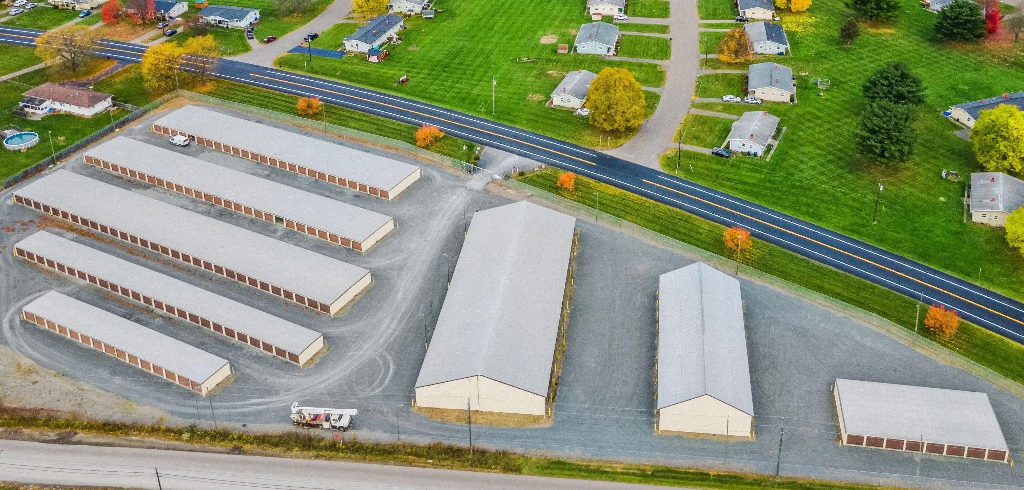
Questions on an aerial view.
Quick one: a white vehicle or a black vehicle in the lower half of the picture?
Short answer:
white vehicle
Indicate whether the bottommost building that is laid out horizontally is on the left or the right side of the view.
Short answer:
right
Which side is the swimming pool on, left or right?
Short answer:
left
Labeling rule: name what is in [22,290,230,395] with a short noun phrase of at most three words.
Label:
building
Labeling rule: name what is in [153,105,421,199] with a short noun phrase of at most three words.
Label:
building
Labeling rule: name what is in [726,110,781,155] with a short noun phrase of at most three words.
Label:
house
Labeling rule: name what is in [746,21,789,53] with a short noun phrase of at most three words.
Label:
house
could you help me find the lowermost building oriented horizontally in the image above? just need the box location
[835,379,1009,462]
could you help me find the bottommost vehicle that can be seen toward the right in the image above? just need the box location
[711,146,732,158]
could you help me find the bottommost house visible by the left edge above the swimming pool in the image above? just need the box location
[12,82,115,116]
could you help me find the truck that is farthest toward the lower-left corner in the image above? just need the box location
[291,400,355,431]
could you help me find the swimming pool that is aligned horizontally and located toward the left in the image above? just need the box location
[1,131,41,151]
